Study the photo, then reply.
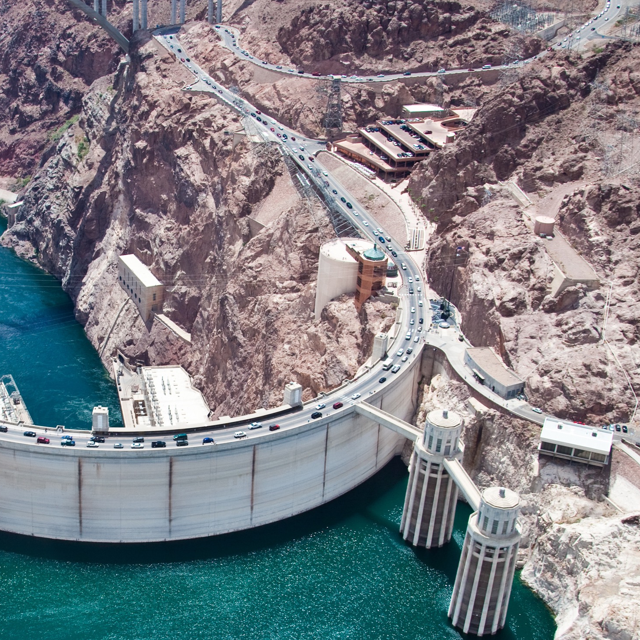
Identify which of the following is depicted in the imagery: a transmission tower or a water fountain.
transmission tower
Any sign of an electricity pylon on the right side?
Yes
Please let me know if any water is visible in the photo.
Yes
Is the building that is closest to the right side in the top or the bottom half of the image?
bottom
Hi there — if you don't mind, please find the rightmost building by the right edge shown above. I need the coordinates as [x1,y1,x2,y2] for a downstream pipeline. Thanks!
[535,416,614,486]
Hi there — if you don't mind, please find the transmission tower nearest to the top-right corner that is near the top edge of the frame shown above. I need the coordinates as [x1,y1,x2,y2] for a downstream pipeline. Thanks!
[618,5,637,41]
